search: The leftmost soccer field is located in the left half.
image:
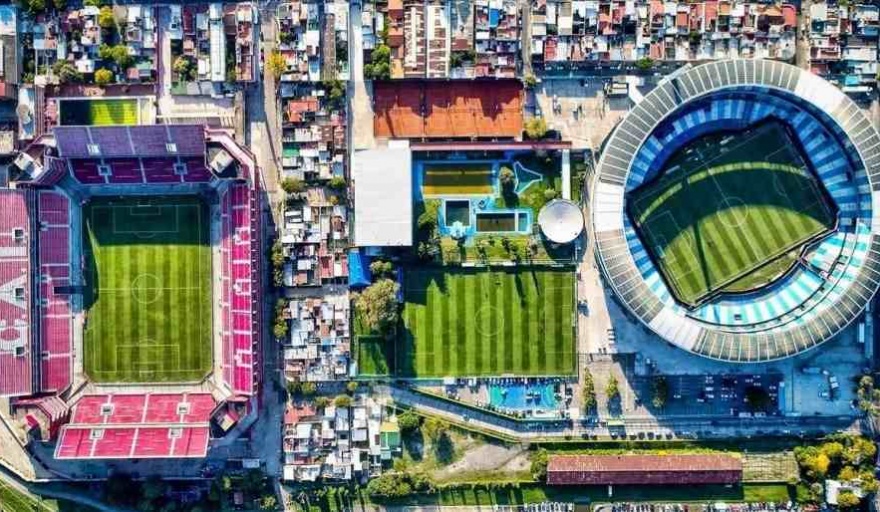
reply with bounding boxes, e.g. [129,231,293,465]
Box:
[83,197,211,383]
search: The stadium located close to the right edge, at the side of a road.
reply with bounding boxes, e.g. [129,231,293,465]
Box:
[584,54,880,361]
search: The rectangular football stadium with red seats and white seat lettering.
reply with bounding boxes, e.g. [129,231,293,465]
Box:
[0,125,267,459]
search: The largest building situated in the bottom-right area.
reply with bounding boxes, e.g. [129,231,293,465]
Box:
[547,453,745,498]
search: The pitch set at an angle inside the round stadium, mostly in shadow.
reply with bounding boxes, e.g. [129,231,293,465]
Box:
[630,120,830,305]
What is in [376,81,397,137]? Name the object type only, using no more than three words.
tennis court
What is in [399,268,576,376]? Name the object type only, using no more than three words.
soccer field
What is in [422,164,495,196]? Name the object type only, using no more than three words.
swimming pool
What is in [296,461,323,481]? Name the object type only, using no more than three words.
house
